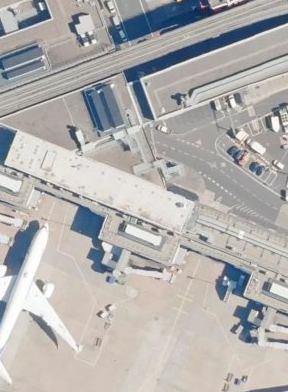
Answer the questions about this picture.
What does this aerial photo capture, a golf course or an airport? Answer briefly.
airport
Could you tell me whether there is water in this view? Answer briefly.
No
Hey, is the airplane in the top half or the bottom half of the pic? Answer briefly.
bottom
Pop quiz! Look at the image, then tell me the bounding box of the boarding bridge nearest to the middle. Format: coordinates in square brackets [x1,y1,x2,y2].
[118,265,178,284]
